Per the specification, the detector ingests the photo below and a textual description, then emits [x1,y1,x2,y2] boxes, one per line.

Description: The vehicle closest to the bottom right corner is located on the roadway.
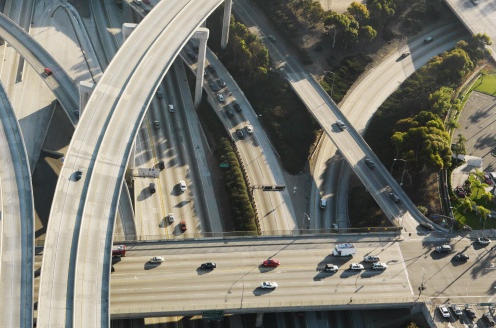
[481,314,496,327]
